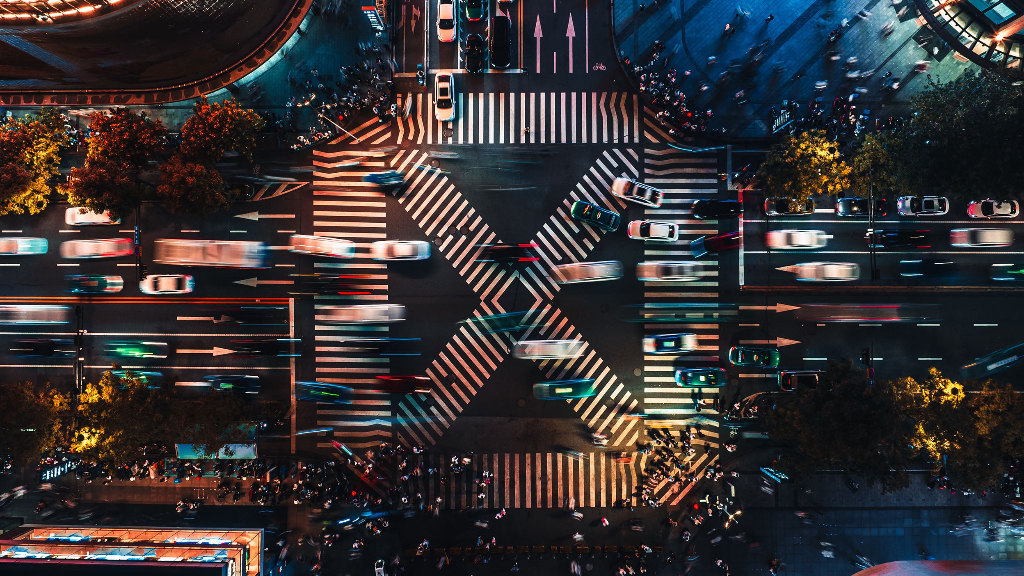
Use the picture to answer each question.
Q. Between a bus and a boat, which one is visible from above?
bus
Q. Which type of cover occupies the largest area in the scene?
paved ground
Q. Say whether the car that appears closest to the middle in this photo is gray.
No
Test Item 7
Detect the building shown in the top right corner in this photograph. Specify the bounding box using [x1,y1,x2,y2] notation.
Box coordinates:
[907,0,1024,75]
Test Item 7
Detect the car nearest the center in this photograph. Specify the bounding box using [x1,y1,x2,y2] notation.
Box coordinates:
[486,240,533,264]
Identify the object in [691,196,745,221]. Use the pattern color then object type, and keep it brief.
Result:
black car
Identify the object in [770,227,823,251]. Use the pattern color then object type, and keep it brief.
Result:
white car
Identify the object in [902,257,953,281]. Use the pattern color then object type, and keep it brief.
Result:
black car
